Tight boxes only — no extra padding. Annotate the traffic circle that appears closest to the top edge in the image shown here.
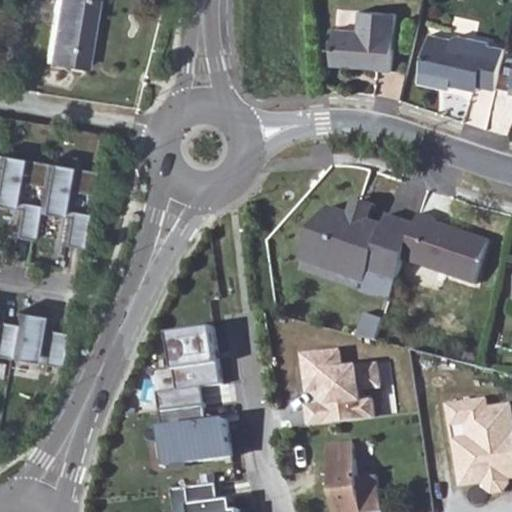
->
[147,82,281,215]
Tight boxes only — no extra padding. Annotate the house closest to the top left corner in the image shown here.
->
[52,0,100,70]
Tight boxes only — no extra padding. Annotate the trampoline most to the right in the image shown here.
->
[468,485,490,506]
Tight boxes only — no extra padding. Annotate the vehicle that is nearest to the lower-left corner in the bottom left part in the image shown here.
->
[94,388,108,412]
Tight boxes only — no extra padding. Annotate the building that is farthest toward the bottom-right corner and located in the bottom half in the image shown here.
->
[442,396,512,494]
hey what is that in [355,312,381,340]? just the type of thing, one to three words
shed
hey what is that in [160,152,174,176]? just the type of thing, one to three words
car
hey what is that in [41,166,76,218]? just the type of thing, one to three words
house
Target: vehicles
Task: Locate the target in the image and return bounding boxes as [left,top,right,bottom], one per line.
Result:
[295,445,306,468]
[288,391,312,408]
[502,66,512,88]
[6,296,16,317]
[94,388,108,412]
[160,152,174,176]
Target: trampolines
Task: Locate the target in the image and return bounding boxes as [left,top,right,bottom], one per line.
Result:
[468,485,490,506]
[143,430,154,441]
